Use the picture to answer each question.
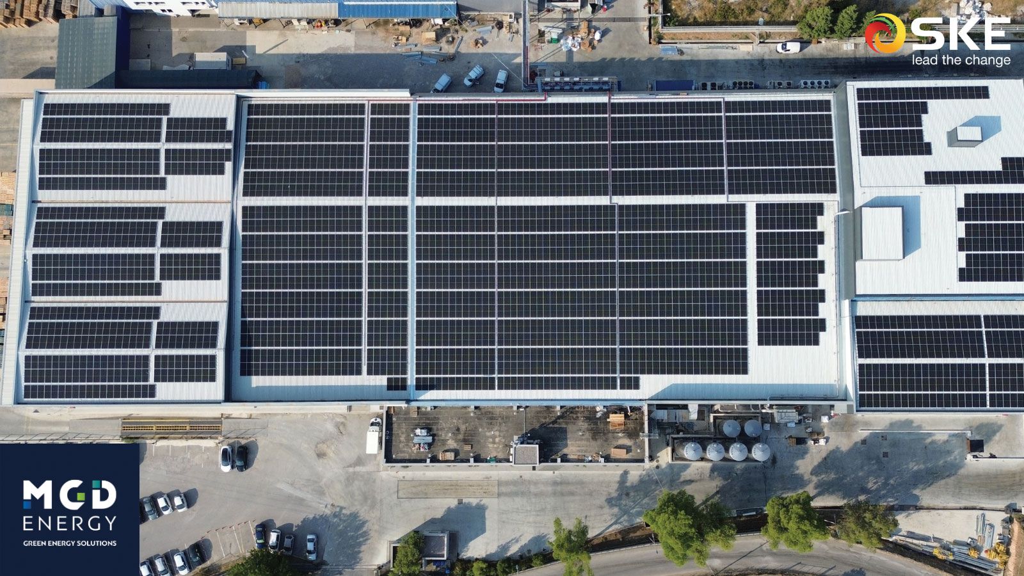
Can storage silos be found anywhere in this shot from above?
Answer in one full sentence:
Yes, a storage silo is visible in the scene.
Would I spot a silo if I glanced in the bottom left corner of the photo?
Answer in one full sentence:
No, in the bottom left corner of the photo there is no silo.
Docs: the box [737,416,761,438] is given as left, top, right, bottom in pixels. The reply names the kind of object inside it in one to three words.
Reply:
silo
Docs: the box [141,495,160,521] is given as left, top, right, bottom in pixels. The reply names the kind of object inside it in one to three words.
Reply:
car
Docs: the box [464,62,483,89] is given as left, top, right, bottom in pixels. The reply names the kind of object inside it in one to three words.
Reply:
vehicle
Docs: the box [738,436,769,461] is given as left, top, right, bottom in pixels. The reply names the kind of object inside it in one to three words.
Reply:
silo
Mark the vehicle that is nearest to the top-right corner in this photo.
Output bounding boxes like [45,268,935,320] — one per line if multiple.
[775,40,802,54]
